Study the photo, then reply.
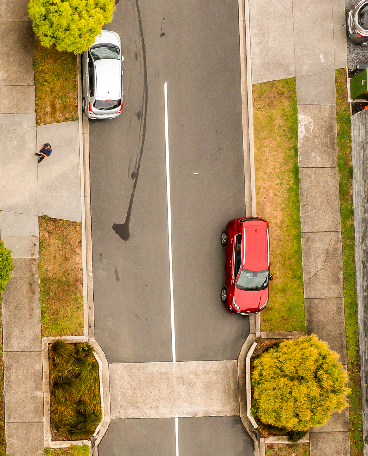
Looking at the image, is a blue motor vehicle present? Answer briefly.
No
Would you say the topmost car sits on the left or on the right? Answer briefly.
right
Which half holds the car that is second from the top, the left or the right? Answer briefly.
left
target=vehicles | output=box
[345,1,368,46]
[79,31,128,123]
[217,217,274,317]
